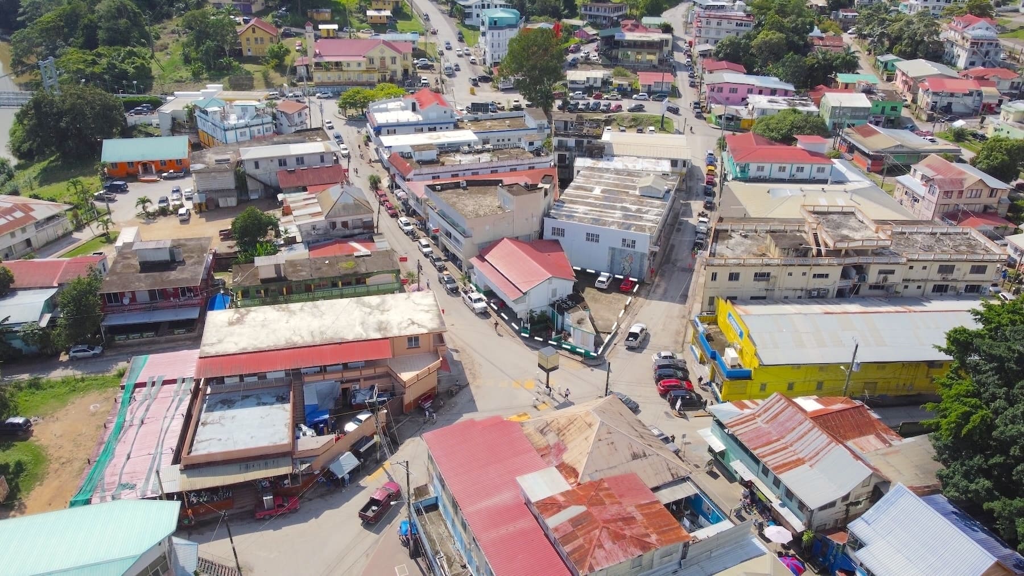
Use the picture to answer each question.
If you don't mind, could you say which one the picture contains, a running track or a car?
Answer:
car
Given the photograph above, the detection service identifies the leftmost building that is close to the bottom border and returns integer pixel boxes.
[0,500,181,576]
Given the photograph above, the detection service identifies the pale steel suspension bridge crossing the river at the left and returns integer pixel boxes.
[0,60,166,116]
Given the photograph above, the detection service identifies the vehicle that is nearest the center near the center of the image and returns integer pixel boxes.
[462,288,487,311]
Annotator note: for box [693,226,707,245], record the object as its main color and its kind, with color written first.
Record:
gray vehicle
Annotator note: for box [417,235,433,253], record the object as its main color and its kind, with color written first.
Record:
white vehicle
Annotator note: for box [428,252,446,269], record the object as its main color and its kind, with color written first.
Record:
gray car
